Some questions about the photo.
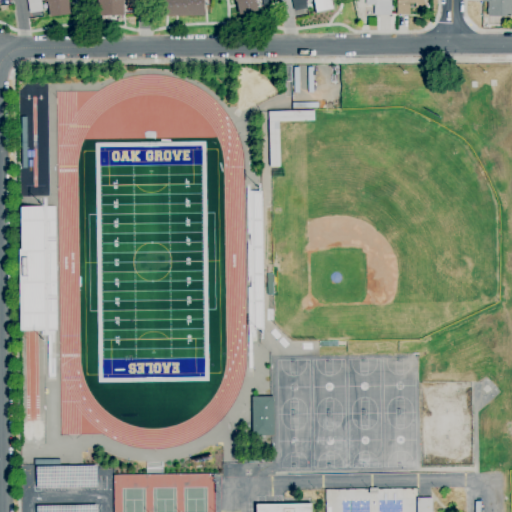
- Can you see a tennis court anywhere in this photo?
Yes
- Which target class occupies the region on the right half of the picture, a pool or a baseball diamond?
baseball diamond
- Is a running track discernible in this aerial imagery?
Yes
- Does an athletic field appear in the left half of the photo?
Yes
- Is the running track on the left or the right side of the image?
left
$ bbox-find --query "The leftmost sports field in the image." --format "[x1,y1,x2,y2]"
[79,138,227,428]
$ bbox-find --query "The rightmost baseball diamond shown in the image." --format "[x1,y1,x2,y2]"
[273,107,500,339]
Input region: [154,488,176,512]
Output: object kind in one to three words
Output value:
tennis court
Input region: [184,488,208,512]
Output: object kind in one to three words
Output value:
tennis court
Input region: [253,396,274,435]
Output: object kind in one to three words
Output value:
building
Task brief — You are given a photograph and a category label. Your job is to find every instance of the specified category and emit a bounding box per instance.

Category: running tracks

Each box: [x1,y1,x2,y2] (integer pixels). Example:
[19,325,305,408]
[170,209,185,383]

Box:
[58,74,248,449]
